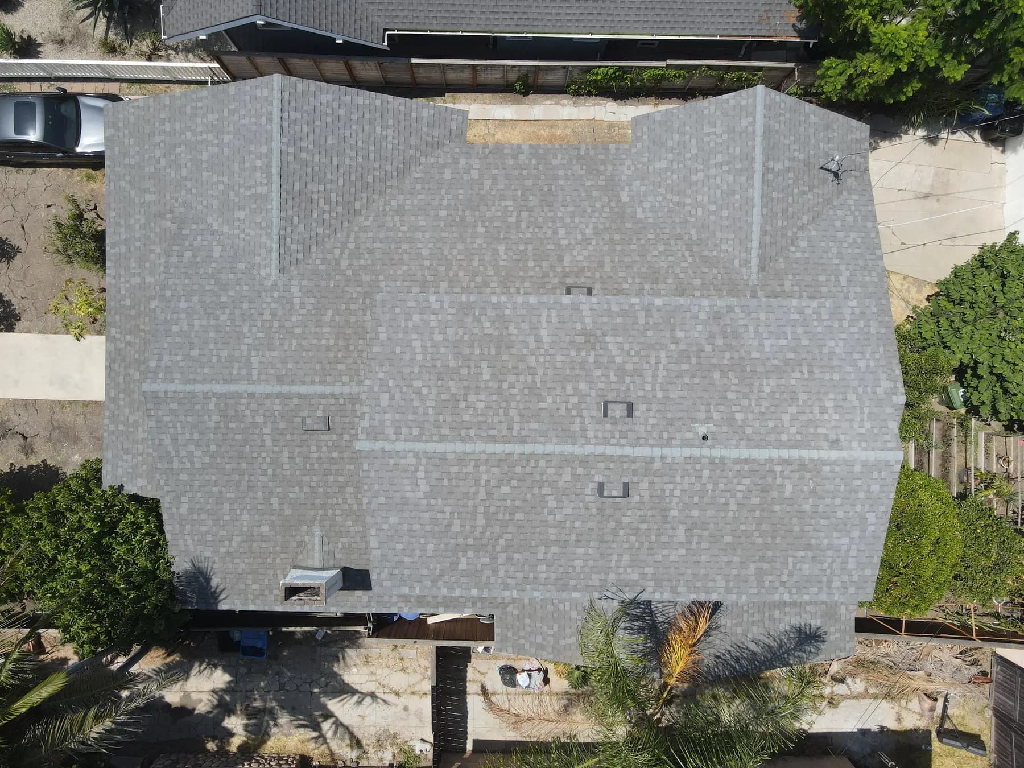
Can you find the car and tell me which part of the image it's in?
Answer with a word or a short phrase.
top left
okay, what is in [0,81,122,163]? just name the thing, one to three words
car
